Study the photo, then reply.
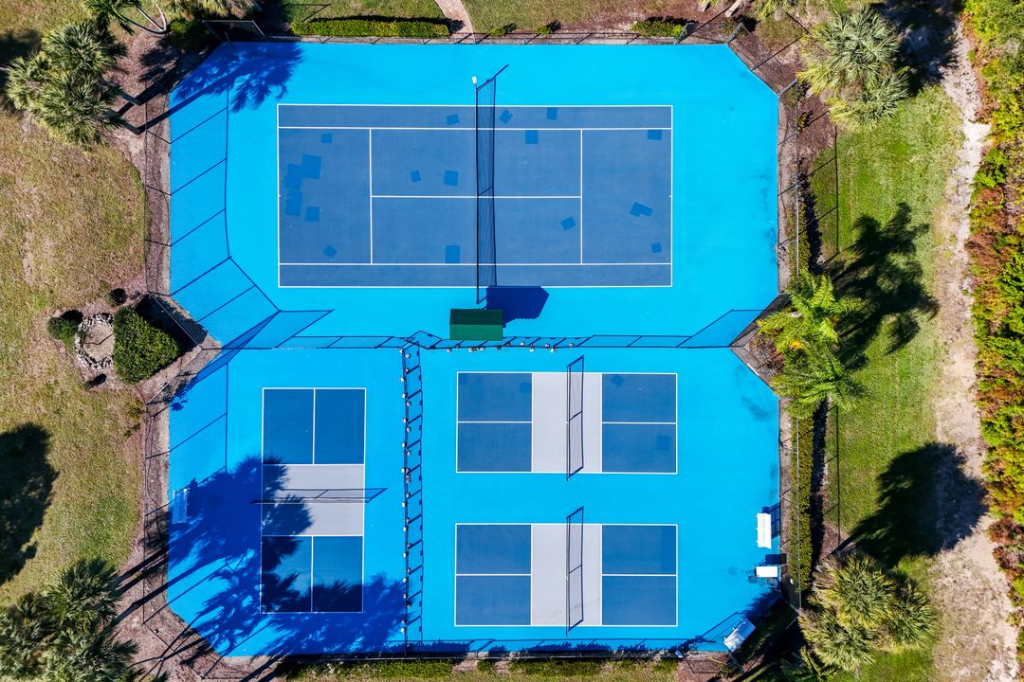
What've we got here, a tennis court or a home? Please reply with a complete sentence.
The one in the frame is a tennis court.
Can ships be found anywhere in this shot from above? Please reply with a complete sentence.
No, this view has no ship in it.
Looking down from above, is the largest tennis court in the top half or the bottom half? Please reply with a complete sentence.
You can find the largest tennis court in the top half.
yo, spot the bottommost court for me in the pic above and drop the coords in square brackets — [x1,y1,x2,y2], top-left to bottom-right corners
[455,524,678,627]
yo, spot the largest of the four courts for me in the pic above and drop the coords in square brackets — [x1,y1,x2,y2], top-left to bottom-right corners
[277,103,673,287]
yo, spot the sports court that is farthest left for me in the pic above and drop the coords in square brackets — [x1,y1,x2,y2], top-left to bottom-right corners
[260,388,365,613]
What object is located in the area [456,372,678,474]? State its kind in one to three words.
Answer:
sports court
